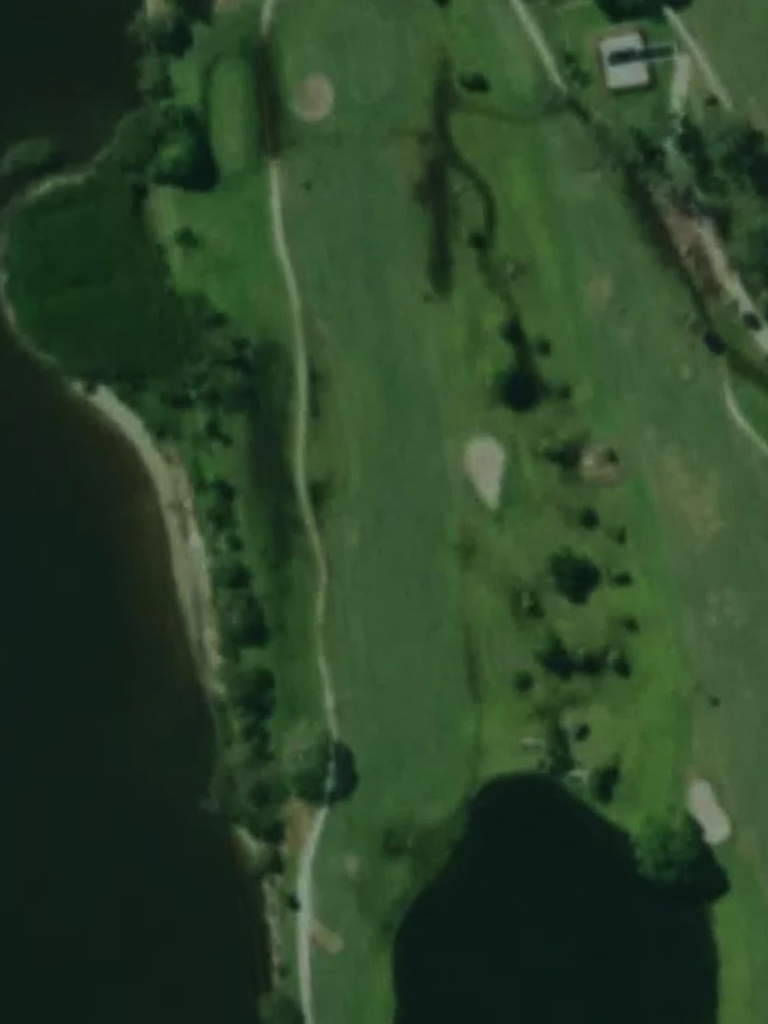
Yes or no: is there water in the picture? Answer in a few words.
Yes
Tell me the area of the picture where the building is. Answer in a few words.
top right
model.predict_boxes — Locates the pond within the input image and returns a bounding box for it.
[392,774,720,1024]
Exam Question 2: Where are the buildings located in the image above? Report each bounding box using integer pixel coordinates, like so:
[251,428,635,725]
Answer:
[600,33,648,87]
